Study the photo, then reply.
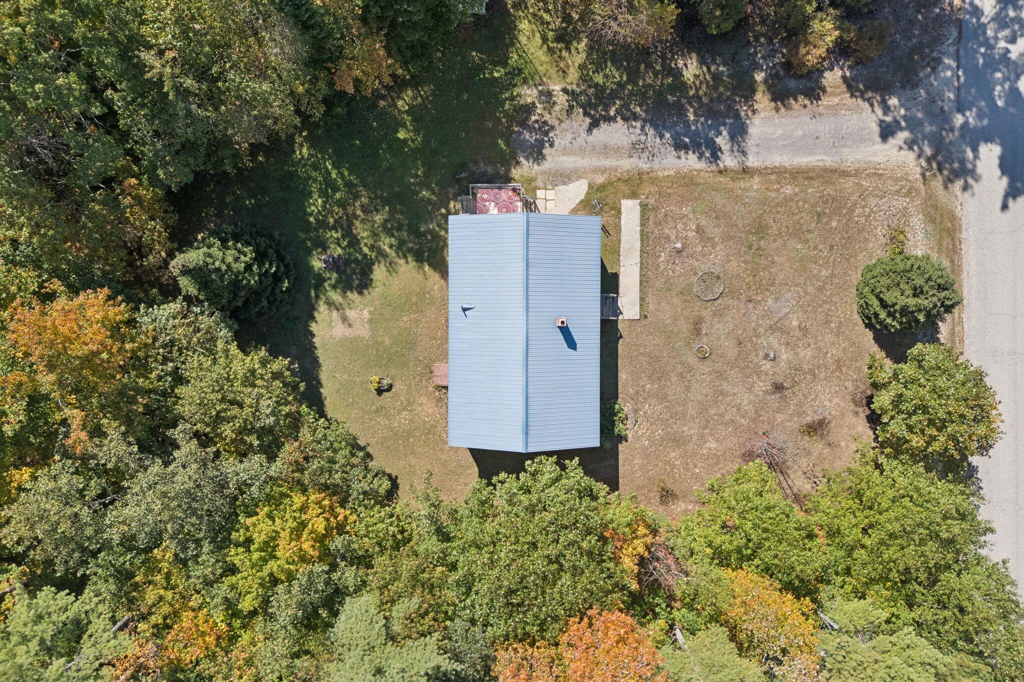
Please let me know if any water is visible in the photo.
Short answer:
No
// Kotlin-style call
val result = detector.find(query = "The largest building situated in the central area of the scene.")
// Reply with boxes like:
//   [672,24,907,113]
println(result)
[448,212,601,453]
